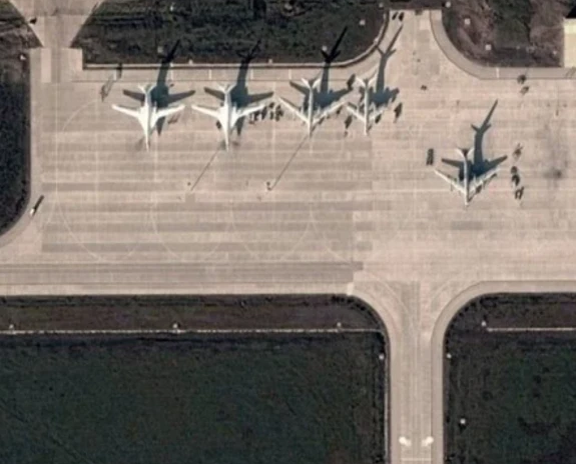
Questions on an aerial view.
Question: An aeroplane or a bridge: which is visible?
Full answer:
This aerial view contains an aeroplane.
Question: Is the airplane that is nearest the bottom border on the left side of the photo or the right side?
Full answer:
It is on the right.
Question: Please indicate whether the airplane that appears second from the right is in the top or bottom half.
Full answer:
Seen from above, the airplane that appears second from the right lies in the top half of the view.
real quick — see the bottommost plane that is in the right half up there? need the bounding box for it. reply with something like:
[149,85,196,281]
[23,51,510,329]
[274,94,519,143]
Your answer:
[434,149,498,206]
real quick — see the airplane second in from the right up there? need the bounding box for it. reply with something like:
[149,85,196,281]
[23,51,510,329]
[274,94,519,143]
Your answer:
[346,74,387,134]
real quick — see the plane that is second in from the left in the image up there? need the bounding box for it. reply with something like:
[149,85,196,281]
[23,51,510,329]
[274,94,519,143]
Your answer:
[191,83,264,150]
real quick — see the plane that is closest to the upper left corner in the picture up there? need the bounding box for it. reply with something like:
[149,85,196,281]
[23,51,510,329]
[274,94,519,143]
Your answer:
[112,84,184,152]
